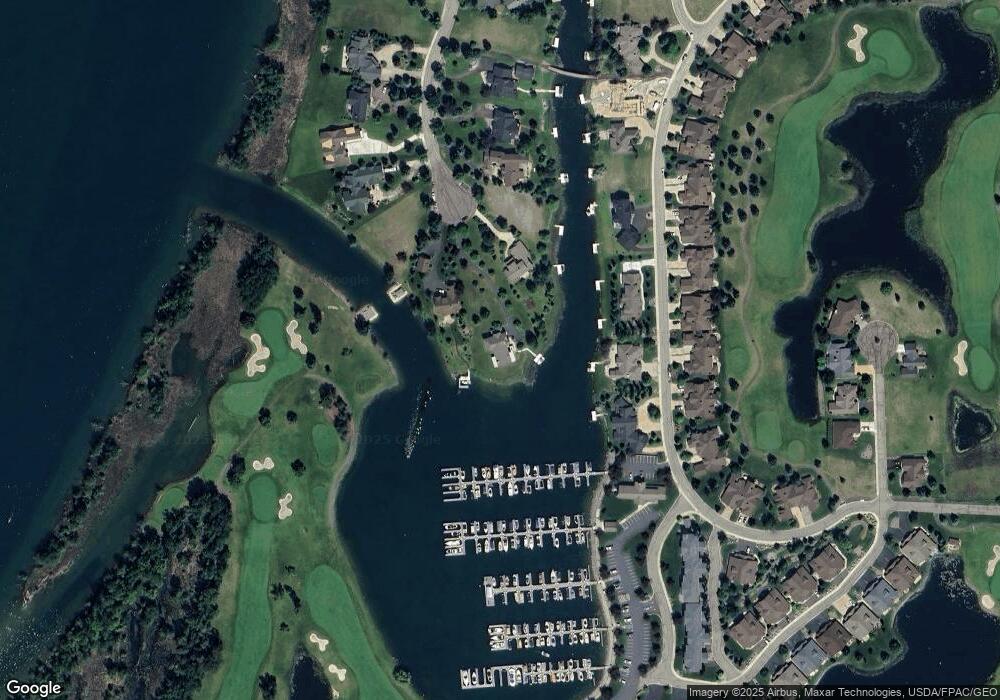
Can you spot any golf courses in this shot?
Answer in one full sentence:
Yes, I can see a golf course in this picture.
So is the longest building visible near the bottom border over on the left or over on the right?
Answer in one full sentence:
It is on the right.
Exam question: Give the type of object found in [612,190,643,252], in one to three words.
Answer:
house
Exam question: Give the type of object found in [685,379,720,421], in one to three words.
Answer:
house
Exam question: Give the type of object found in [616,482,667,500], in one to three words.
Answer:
building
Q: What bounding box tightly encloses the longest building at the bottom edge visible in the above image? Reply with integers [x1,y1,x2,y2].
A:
[680,534,713,669]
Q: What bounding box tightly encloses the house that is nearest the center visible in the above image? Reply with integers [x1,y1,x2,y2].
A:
[481,328,516,369]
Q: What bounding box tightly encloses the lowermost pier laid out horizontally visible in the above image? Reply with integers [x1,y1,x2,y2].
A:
[460,659,611,689]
